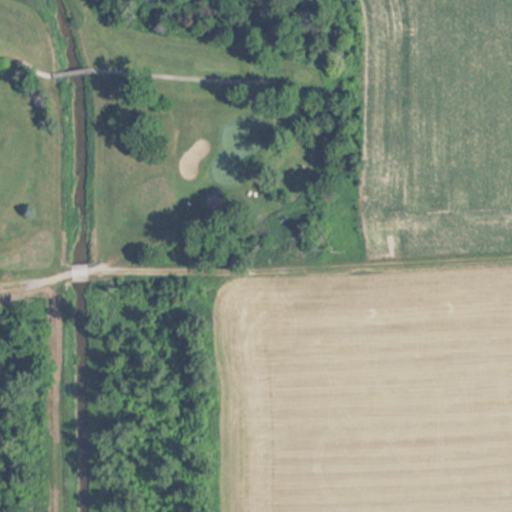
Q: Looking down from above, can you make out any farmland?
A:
Yes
